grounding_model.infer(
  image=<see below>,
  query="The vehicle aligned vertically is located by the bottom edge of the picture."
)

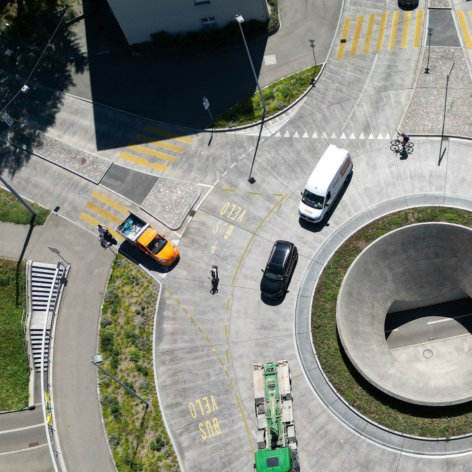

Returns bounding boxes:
[255,358,296,472]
